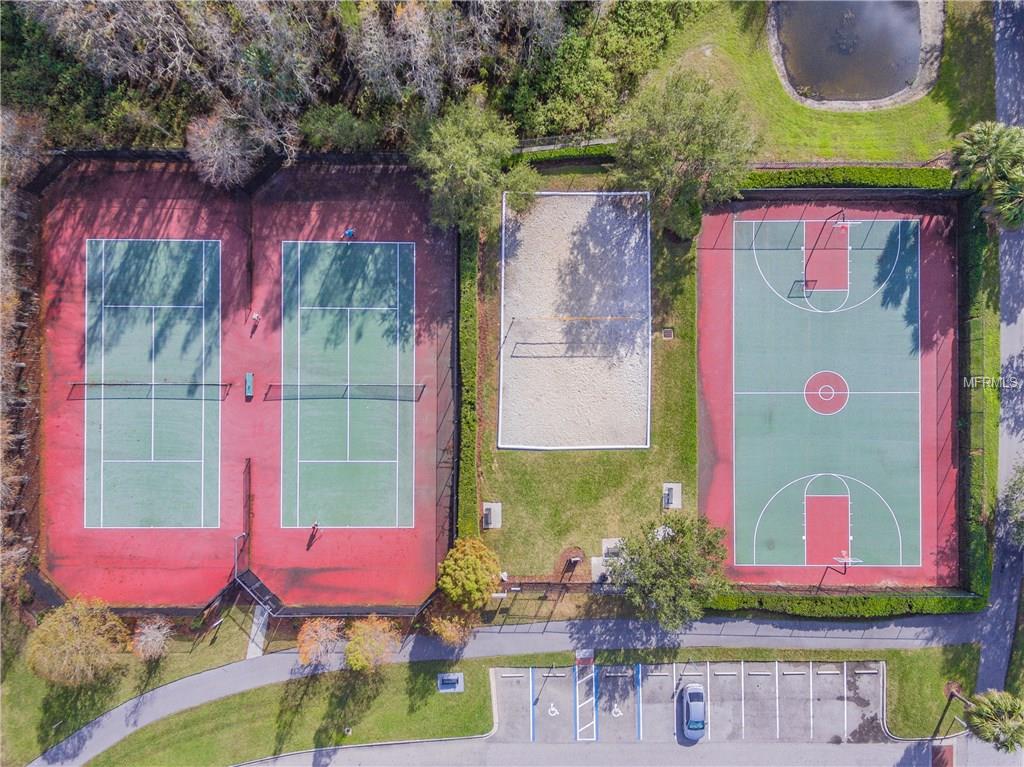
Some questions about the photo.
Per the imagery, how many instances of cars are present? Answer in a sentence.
In total, 1 car can be seen.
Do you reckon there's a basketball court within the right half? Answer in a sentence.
Yes, a basketball court appears within the right half.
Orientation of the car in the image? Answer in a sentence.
From this overhead view, the car appears to run vertically.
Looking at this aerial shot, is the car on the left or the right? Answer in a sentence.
The car sits on the right side.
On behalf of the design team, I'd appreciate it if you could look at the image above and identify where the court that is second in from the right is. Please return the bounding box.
[497,191,651,449]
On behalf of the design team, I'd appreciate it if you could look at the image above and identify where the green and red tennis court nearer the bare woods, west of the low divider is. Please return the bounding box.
[40,160,249,605]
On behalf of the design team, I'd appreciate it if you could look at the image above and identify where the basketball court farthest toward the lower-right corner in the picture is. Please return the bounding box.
[697,202,958,587]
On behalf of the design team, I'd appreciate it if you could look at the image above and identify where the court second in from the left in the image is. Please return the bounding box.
[249,160,453,605]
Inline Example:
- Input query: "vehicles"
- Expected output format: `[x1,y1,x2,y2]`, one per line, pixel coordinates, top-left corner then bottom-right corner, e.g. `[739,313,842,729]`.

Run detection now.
[681,683,709,739]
